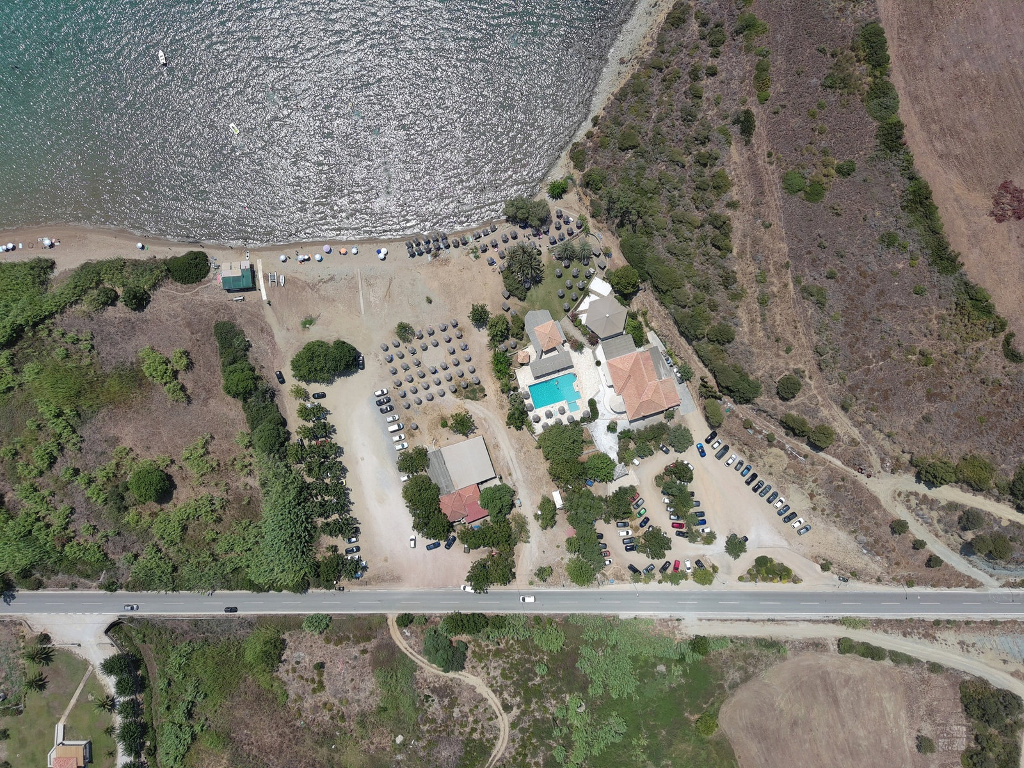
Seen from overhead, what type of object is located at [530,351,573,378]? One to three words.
building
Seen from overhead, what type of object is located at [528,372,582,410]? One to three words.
swimming pool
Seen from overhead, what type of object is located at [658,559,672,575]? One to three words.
car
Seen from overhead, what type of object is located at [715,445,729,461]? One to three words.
vehicle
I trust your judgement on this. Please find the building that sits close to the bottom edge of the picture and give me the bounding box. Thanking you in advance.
[48,721,96,768]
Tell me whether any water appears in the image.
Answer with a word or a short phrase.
Yes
